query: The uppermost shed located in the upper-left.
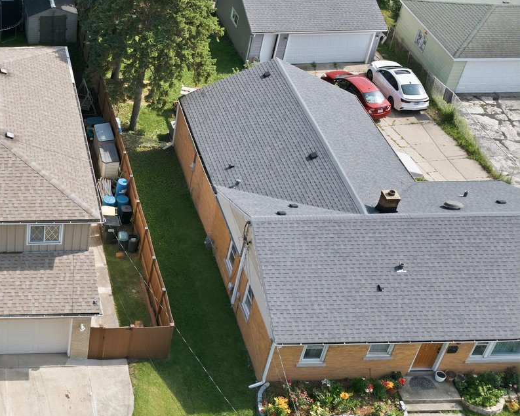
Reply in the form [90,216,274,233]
[27,0,81,43]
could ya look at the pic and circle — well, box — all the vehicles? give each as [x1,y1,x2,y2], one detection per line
[365,57,429,110]
[329,67,402,122]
